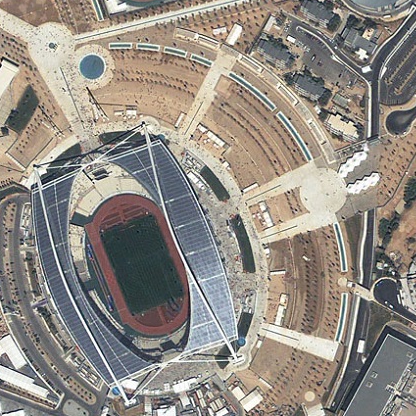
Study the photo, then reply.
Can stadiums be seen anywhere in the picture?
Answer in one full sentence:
Yes, you can see a stadium in this photo.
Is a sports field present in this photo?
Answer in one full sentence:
Yes, there's a sports field down there.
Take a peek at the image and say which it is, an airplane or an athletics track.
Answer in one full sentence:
This aerial view contains an athletics track.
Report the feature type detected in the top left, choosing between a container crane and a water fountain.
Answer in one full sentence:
What appears in the top left is a water fountain.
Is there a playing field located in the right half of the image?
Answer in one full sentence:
No, there is no playing field in the right half of the image.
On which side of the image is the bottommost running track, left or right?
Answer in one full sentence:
The bottommost running track sits on the left side.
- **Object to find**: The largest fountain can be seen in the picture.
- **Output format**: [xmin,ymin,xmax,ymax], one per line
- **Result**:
[78,55,106,81]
